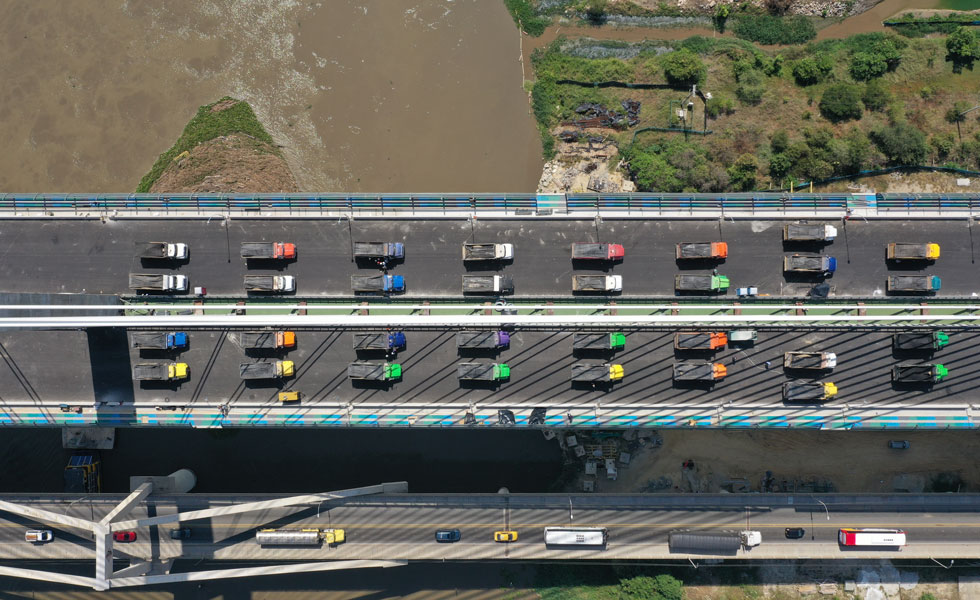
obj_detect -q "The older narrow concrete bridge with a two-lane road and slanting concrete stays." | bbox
[0,467,980,589]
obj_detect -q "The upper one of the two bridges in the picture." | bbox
[0,192,980,432]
